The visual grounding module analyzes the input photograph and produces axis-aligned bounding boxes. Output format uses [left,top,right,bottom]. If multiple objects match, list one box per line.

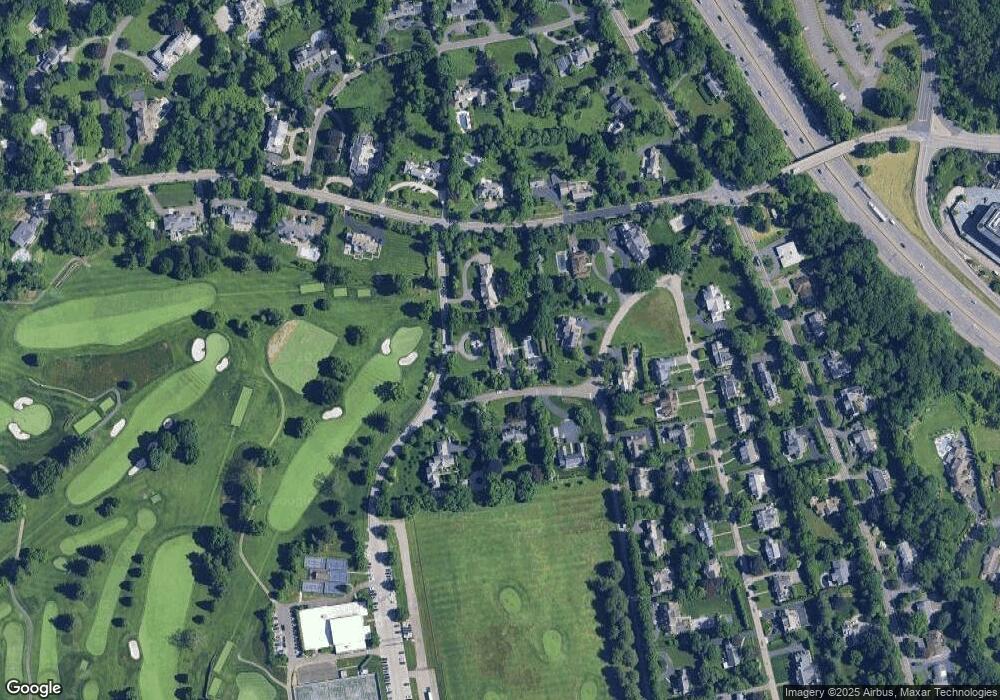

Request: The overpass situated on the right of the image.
[780,138,856,181]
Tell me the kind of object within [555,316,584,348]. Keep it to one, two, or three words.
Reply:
house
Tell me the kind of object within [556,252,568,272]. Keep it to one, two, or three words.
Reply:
swimming pool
